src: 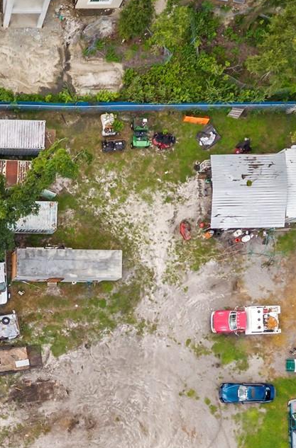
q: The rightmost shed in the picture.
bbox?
[201,146,296,232]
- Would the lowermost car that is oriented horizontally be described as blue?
Yes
